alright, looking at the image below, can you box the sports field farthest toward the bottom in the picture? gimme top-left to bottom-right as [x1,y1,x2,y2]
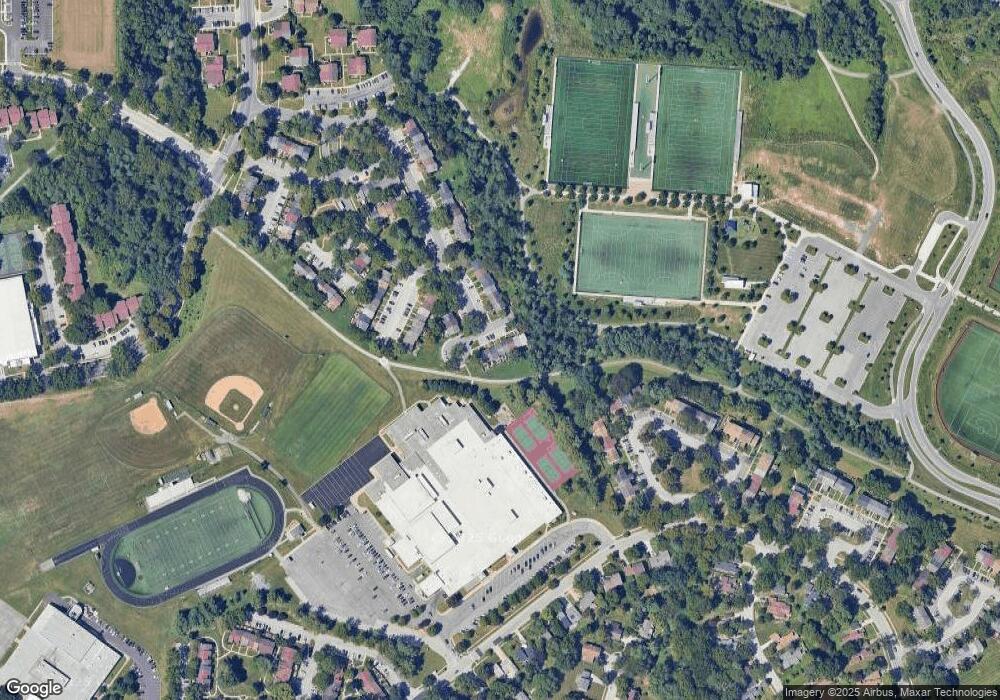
[114,486,273,595]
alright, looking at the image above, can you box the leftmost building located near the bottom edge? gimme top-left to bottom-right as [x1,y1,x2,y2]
[0,603,124,700]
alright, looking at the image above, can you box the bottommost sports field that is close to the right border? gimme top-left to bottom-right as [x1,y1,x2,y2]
[938,320,1000,460]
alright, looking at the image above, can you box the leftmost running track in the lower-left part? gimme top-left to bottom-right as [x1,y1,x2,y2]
[54,468,286,607]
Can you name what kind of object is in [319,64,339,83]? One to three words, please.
house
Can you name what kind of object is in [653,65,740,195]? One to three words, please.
sports field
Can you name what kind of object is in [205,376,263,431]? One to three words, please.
baseball field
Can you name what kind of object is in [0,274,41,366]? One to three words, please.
building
